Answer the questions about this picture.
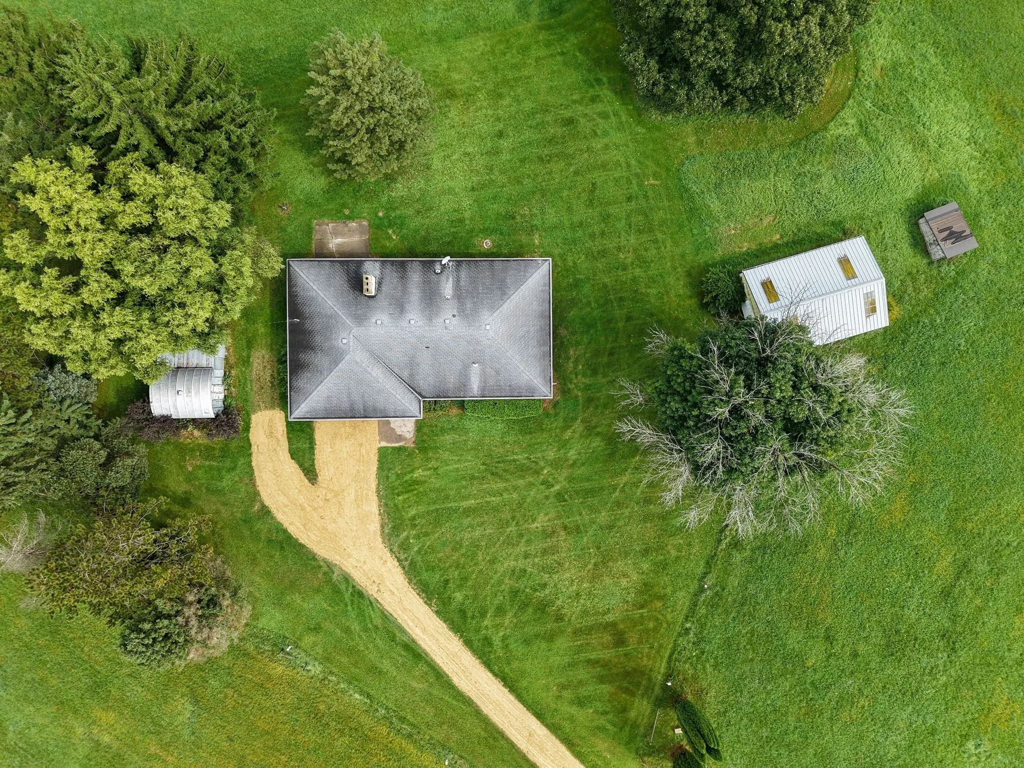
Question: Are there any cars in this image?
No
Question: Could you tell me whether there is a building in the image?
Yes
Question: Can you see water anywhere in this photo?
No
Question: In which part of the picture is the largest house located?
center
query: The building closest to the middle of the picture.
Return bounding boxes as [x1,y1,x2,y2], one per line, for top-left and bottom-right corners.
[286,256,557,422]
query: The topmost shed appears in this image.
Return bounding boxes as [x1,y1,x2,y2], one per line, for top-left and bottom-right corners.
[913,202,979,259]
